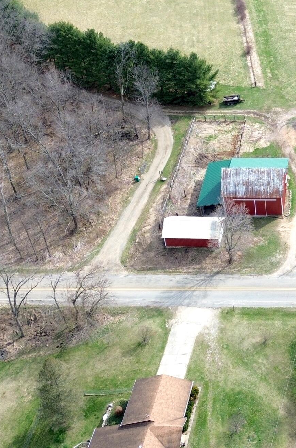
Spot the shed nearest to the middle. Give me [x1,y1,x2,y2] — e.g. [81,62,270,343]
[162,211,227,247]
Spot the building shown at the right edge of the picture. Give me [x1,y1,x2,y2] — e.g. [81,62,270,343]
[197,158,289,215]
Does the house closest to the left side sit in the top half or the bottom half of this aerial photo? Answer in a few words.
bottom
